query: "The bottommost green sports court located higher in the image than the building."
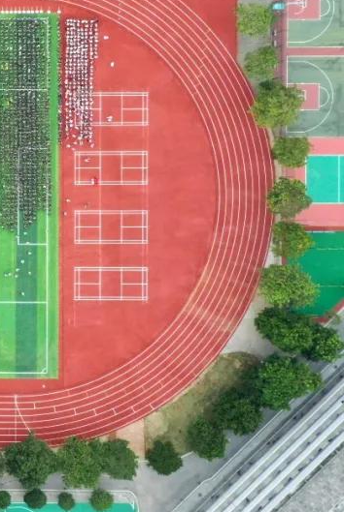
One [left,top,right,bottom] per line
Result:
[276,226,344,323]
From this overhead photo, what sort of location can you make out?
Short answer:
sports ground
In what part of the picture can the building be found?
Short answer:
bottom right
